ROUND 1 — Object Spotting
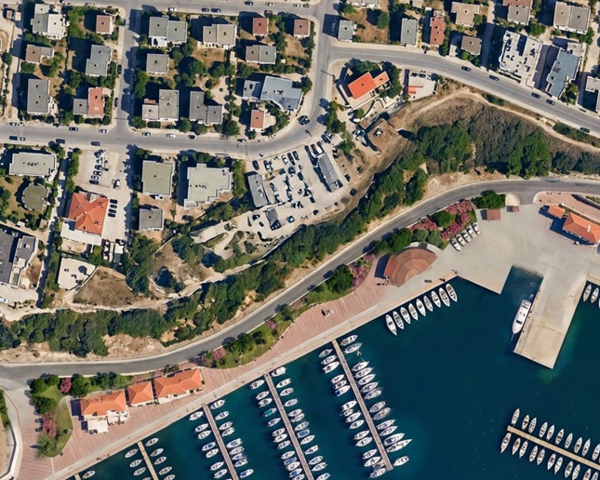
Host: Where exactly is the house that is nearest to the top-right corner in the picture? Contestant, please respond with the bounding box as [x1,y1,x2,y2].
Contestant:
[552,1,592,38]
